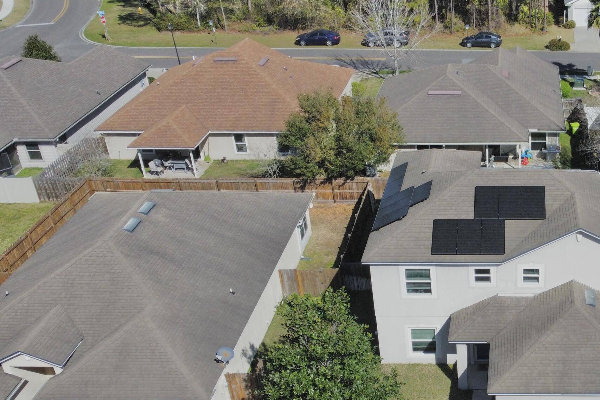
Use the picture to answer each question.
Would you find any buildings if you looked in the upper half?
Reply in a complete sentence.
Yes, a building appears in the upper half.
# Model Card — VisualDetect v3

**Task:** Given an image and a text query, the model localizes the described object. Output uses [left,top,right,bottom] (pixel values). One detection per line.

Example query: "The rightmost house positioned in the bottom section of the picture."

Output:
[361,148,600,400]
